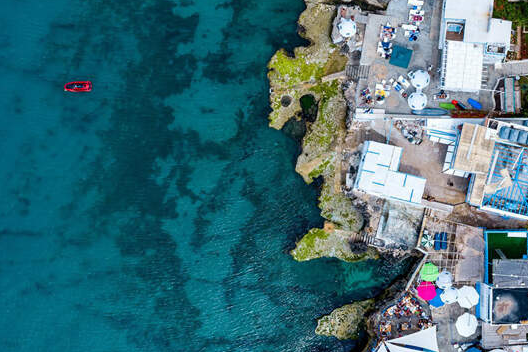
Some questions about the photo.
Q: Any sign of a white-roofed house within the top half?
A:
Yes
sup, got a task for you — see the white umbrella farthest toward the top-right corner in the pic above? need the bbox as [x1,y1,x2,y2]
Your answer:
[409,68,429,89]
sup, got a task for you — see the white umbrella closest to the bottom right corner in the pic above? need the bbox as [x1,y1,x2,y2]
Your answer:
[456,313,477,335]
